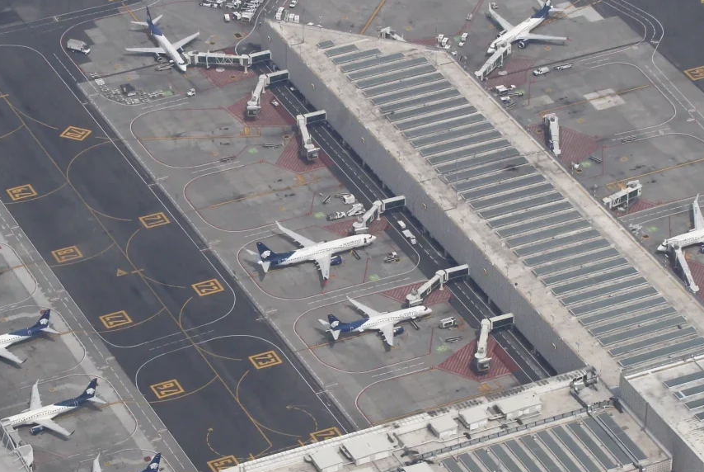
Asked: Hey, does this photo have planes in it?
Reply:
Yes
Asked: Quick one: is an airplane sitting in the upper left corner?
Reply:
Yes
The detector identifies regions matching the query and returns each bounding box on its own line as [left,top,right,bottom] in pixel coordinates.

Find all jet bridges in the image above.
[664,245,704,303]
[474,310,511,374]
[294,107,325,163]
[245,68,289,121]
[183,50,272,80]
[597,181,640,211]
[351,192,403,236]
[468,44,509,82]
[407,262,467,311]
[541,117,564,164]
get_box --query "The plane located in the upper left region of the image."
[123,8,199,72]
